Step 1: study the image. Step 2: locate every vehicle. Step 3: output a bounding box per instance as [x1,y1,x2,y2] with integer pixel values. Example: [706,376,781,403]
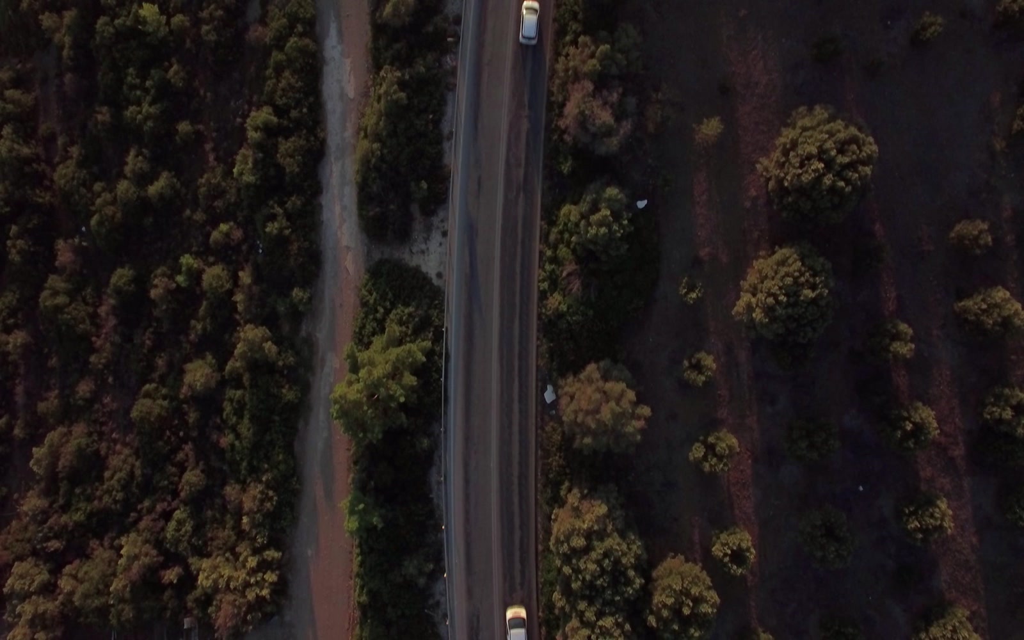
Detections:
[518,2,540,48]
[505,603,526,640]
